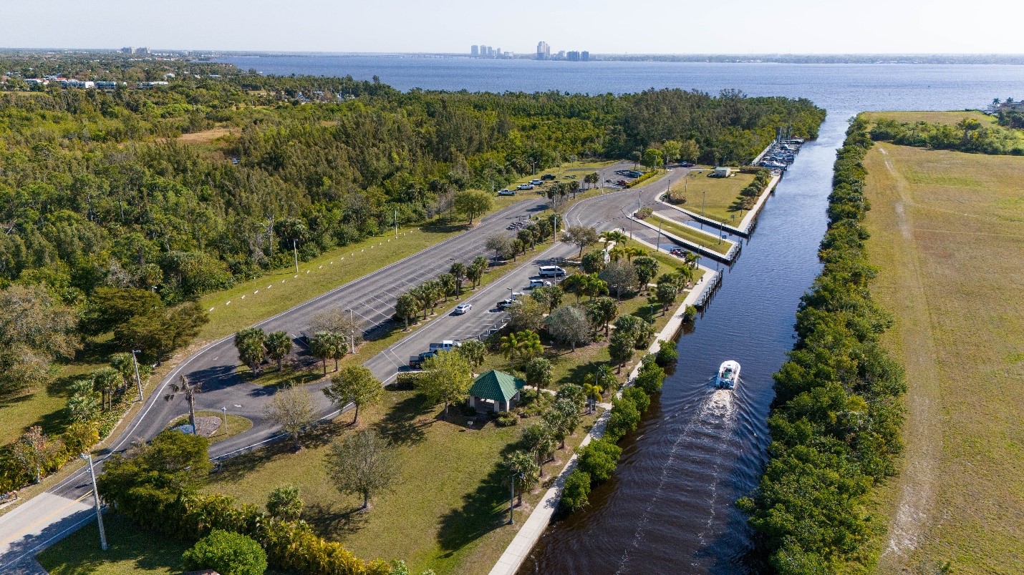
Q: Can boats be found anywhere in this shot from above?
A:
Yes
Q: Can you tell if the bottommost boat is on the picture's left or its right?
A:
right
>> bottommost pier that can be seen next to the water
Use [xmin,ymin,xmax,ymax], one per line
[694,272,727,310]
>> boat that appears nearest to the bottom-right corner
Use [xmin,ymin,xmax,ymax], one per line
[713,360,740,389]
